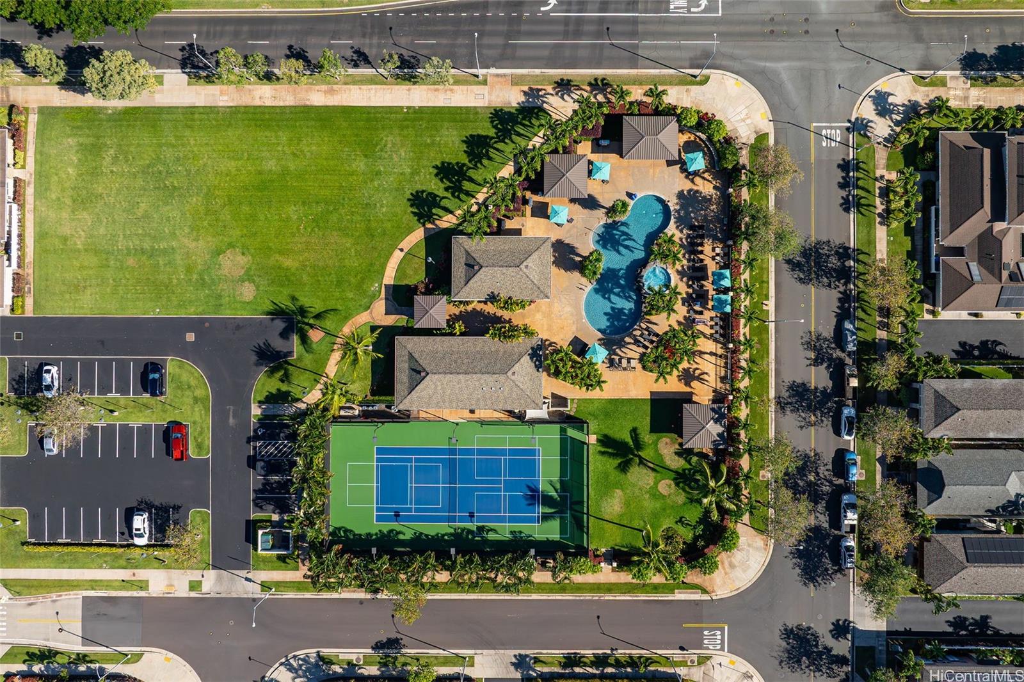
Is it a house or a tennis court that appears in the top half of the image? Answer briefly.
house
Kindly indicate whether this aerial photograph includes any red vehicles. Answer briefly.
Yes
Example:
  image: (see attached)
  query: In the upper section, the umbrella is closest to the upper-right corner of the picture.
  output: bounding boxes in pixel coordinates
[684,152,704,172]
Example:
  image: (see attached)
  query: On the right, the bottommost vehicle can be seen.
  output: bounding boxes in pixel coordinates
[839,536,857,569]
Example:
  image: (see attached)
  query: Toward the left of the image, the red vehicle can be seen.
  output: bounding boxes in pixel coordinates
[170,424,188,461]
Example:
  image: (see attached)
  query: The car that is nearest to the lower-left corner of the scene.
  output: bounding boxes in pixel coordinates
[131,510,149,544]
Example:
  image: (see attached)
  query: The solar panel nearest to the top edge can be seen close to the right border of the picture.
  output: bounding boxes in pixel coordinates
[997,286,1024,307]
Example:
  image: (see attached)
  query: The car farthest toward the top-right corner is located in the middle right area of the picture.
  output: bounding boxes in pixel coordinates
[840,319,856,352]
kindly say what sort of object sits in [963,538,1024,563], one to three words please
solar panel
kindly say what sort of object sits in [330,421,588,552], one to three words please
tennis court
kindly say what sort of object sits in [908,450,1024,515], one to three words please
house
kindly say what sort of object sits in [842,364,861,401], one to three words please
vehicle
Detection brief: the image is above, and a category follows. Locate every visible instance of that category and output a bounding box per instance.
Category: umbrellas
[684,152,704,172]
[591,162,610,181]
[584,340,609,363]
[549,205,568,224]
[711,269,730,289]
[711,294,730,313]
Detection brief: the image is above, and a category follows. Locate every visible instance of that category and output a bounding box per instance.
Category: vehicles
[170,424,188,461]
[840,319,856,352]
[839,536,857,569]
[840,492,859,534]
[840,406,858,440]
[842,450,859,481]
[842,364,861,401]
[146,362,164,395]
[131,510,149,544]
[40,364,59,396]
[40,425,59,456]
